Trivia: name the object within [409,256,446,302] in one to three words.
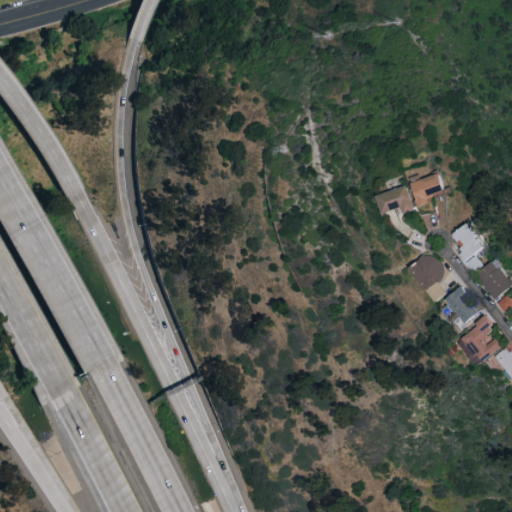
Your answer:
house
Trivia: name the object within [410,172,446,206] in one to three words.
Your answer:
house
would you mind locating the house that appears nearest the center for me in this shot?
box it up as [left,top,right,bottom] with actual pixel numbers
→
[375,186,413,215]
